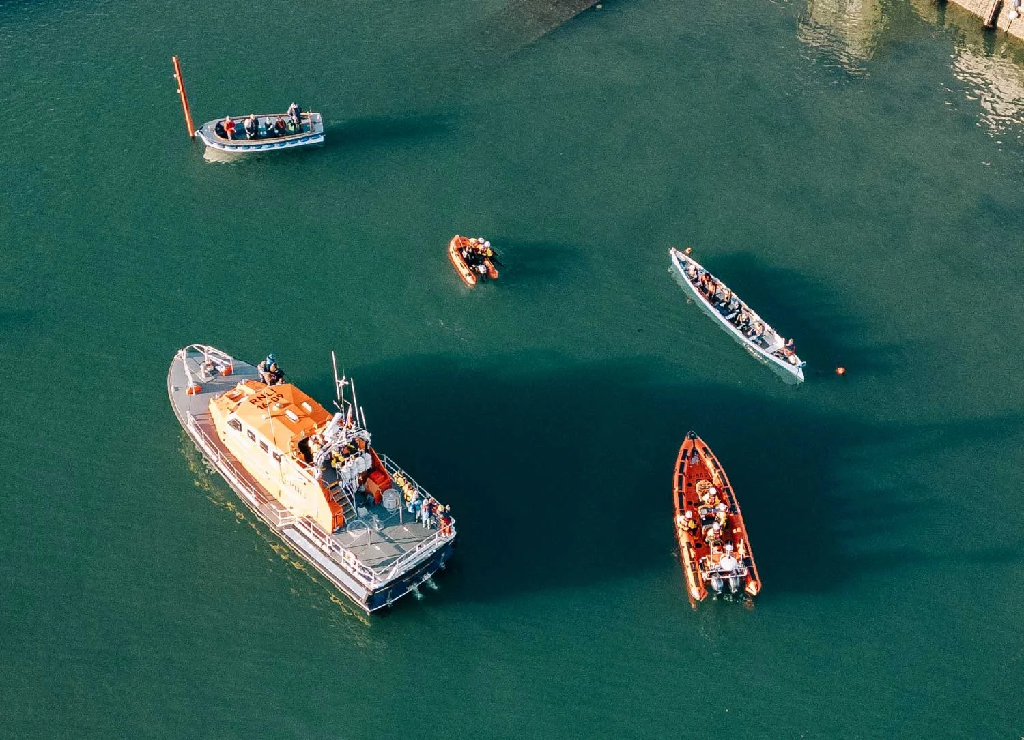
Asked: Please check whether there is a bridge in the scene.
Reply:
No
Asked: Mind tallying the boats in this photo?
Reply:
5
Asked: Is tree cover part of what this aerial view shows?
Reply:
No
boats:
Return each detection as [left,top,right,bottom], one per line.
[671,244,815,389]
[194,106,330,155]
[167,339,457,618]
[446,235,501,289]
[672,431,757,607]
